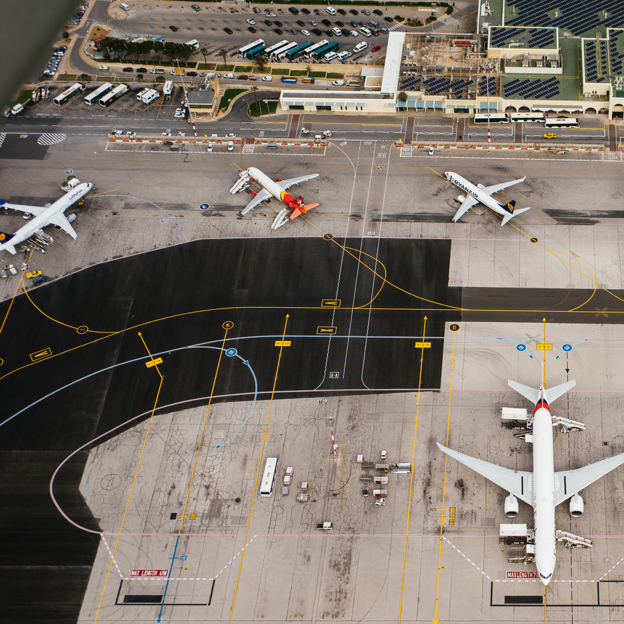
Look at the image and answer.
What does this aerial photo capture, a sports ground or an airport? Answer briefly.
airport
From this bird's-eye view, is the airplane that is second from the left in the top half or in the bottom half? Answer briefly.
top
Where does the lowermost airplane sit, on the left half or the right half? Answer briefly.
right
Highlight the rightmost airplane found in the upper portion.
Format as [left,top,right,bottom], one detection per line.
[445,172,527,225]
